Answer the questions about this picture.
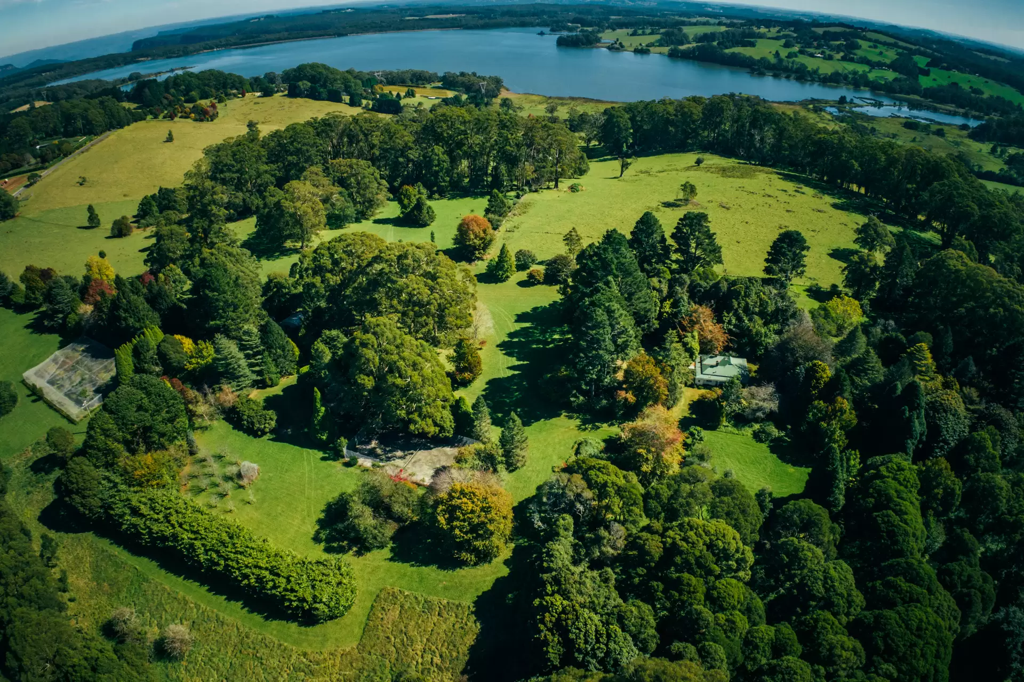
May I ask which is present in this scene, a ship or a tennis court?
tennis court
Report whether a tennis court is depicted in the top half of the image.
No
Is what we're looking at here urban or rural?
rural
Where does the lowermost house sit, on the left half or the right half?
right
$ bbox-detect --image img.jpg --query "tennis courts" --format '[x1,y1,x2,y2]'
[345,421,475,488]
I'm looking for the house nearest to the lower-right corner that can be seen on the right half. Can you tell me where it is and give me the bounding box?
[687,347,749,388]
